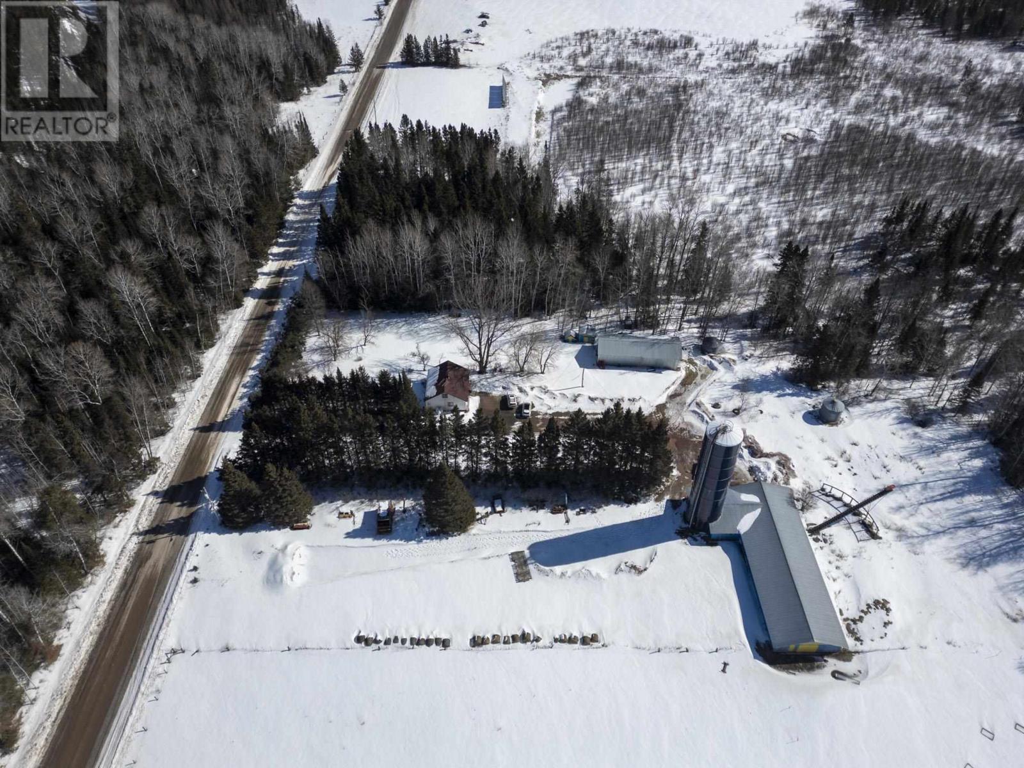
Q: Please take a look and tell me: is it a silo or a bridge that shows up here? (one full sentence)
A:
There is a silo in the scene.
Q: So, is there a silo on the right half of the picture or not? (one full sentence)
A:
Yes, a silo appears on the right half of the picture.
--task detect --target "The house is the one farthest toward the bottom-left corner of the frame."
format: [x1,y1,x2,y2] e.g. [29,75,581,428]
[424,358,470,412]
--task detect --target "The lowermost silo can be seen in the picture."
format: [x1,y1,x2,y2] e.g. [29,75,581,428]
[682,421,737,537]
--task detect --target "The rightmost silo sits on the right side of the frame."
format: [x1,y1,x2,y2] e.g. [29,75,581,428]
[820,399,848,424]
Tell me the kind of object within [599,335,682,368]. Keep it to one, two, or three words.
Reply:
shed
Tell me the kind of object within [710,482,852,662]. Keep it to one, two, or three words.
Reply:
barn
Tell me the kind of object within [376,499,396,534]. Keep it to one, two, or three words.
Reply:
work vehicle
